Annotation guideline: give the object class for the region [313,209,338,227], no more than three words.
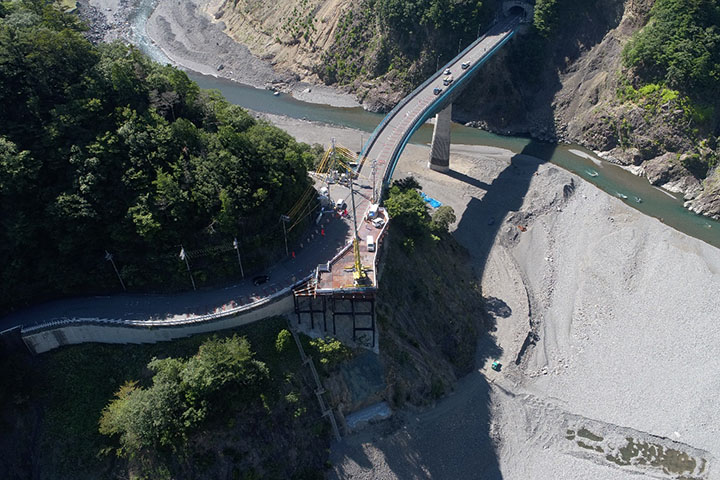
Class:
vehicle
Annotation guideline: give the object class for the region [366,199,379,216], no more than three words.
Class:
vehicle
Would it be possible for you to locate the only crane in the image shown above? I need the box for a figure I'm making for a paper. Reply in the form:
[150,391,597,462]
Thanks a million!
[341,232,375,288]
